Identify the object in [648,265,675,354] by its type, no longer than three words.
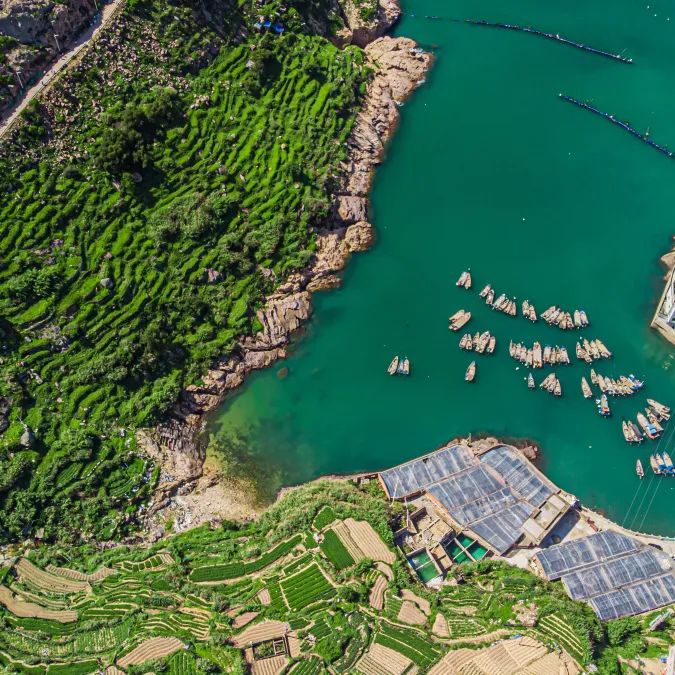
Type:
pier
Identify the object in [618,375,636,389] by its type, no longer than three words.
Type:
boat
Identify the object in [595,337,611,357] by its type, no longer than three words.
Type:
boat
